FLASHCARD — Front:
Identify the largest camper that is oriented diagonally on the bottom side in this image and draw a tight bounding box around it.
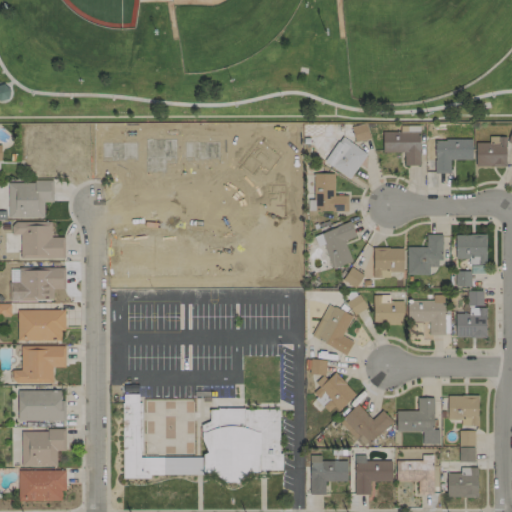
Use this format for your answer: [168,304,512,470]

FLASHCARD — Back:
[350,390,369,409]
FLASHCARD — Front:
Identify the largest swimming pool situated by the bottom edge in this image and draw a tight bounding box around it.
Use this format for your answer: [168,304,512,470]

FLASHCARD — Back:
[0,472,18,490]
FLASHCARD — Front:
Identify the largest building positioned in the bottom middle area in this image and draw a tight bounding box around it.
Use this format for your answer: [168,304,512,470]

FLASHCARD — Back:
[124,384,284,486]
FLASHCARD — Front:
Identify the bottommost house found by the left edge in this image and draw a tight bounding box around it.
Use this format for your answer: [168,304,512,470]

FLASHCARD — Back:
[19,469,67,502]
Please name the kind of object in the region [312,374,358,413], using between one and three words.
house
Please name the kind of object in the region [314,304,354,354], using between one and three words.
house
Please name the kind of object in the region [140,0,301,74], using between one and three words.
baseball field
